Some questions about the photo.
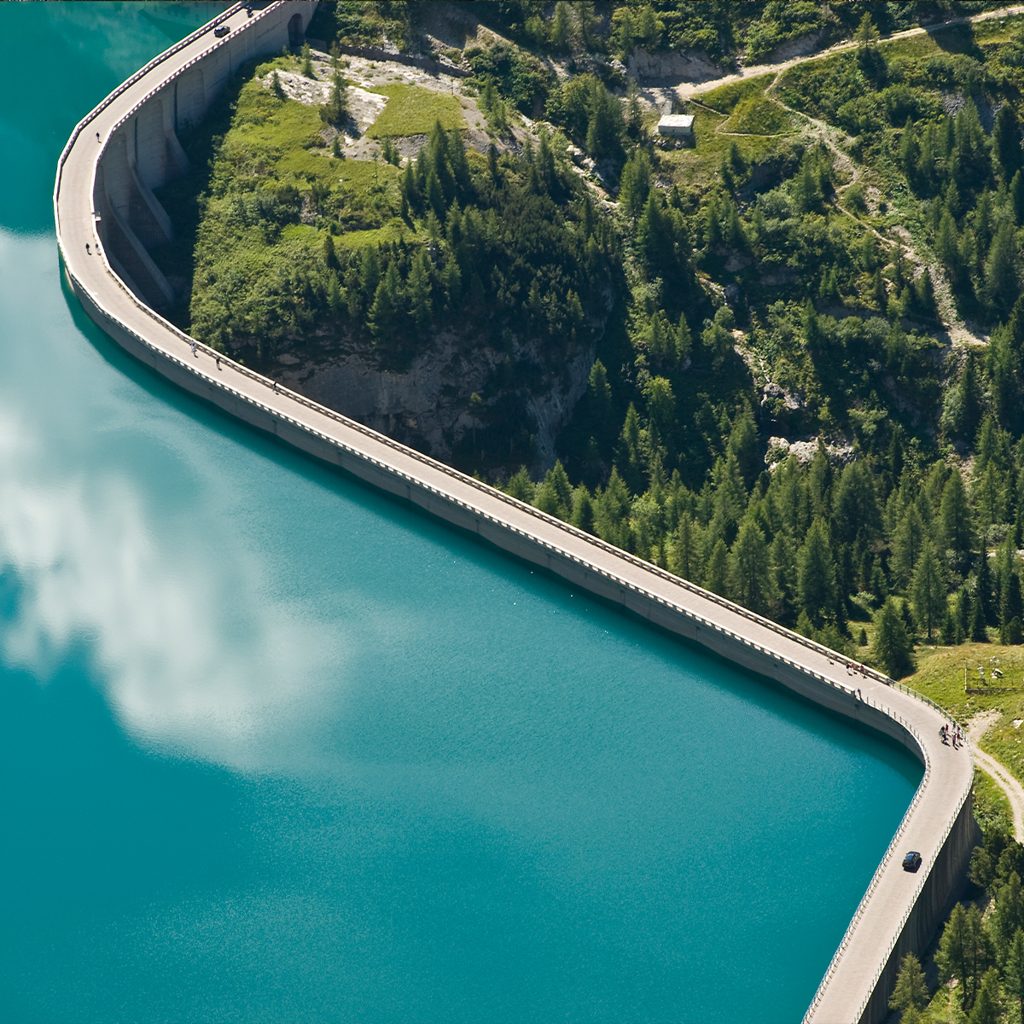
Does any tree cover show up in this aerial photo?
Yes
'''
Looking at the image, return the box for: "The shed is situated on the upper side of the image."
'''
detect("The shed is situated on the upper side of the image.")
[656,112,692,136]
